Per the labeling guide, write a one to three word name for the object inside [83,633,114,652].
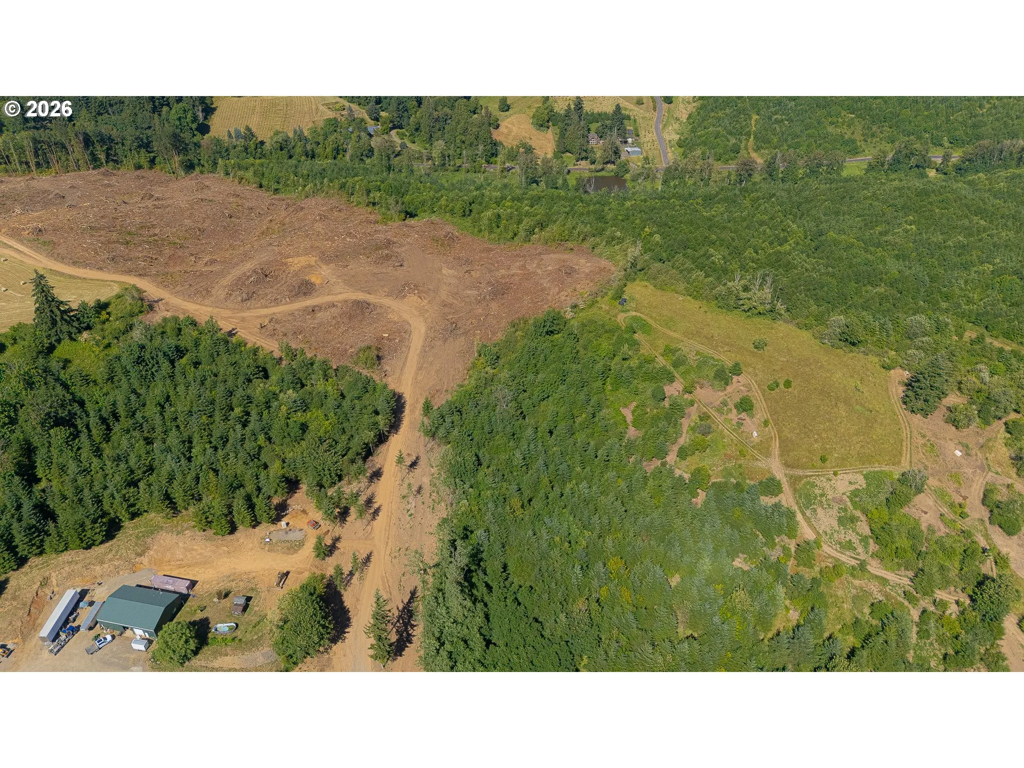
vehicle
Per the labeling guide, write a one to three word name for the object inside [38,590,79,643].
trailer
